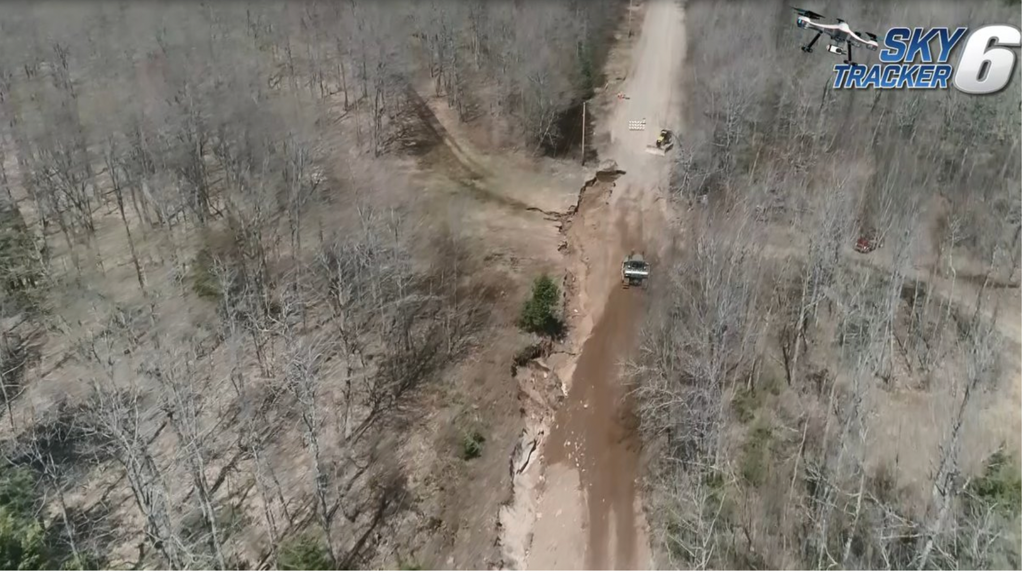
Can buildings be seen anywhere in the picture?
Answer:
No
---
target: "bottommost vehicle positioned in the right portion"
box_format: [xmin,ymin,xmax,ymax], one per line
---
[621,249,649,287]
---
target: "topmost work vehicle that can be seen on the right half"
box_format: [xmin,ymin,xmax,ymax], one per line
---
[650,127,677,156]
